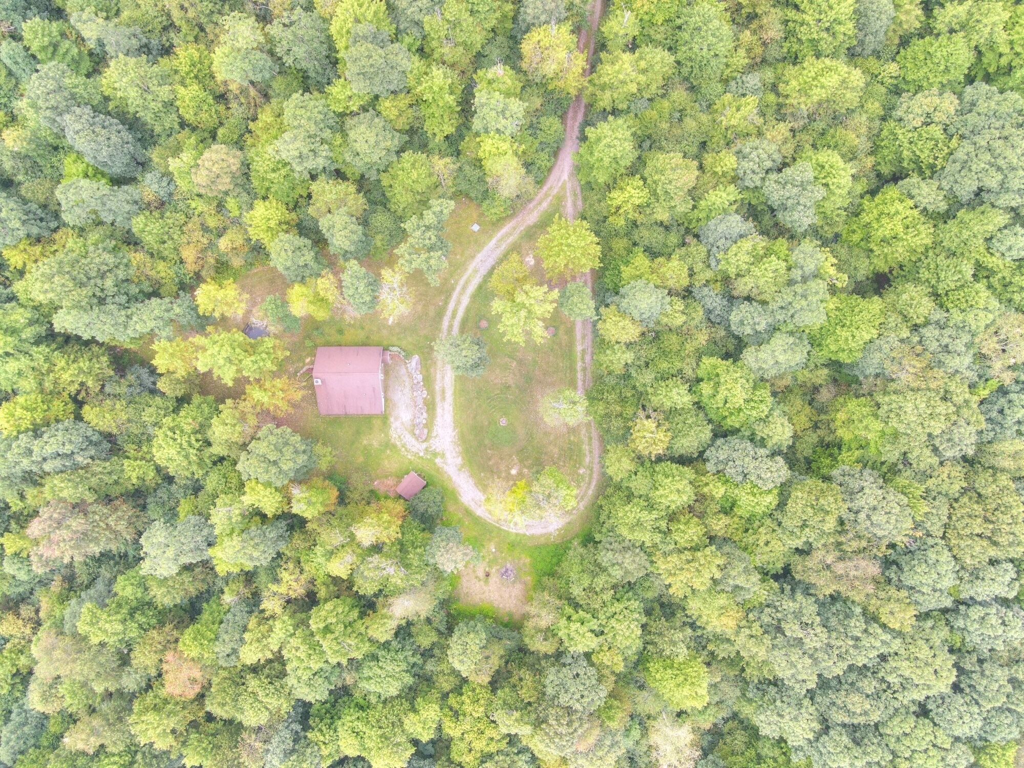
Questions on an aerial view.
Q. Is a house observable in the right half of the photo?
No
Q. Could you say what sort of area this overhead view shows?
forest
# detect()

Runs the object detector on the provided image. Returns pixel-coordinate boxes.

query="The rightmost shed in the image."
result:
[396,469,427,498]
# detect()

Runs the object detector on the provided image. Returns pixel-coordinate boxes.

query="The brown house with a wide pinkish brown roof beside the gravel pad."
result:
[312,345,393,415]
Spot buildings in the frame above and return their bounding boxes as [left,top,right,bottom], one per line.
[312,345,393,415]
[396,469,427,498]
